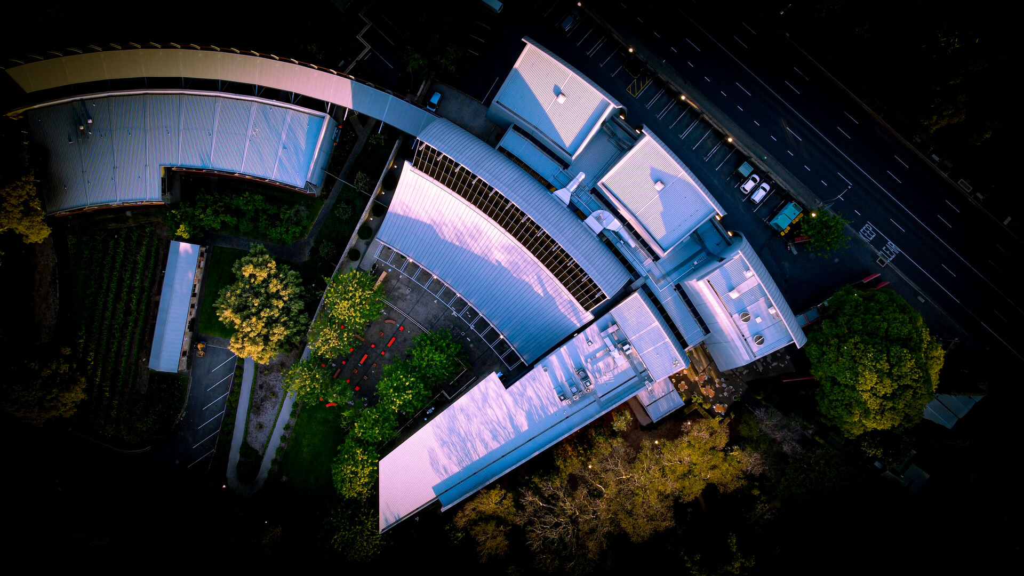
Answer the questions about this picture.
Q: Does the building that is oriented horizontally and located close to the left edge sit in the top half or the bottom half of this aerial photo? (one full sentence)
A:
The building that is oriented horizontally and located close to the left edge is in the top half of the image.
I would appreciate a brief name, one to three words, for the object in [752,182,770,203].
car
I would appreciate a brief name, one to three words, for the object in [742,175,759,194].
car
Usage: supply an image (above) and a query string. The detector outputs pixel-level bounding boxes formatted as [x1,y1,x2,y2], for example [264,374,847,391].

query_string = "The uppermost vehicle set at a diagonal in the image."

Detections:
[560,9,579,30]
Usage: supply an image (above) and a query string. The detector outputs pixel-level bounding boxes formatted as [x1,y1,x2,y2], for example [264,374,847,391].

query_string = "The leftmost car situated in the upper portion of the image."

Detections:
[428,90,441,111]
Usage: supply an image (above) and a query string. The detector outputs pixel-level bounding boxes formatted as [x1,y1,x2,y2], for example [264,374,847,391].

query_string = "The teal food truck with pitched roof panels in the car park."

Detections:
[773,203,803,232]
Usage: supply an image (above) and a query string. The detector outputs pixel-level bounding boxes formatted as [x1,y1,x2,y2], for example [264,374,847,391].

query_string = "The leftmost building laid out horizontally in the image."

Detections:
[20,88,342,218]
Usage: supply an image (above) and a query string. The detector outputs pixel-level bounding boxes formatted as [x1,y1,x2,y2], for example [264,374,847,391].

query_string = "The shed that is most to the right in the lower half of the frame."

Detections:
[917,392,983,428]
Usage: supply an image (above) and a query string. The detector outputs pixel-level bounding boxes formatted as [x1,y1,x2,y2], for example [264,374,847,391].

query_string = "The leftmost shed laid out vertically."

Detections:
[149,240,216,373]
